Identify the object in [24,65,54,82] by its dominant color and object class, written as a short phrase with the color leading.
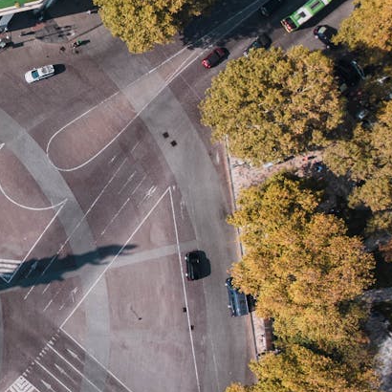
white car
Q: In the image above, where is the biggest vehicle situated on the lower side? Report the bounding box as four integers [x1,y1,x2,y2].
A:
[226,278,251,314]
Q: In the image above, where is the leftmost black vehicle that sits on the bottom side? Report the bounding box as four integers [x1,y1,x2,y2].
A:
[184,251,200,280]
